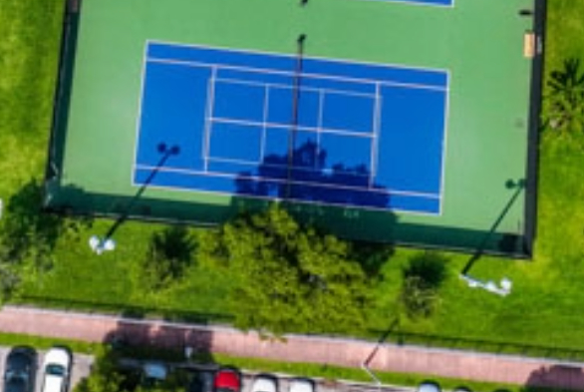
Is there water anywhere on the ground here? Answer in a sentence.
No, the scene doesn't show any water.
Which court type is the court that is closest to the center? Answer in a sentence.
The court that is closest to the center in the image is a tennis court.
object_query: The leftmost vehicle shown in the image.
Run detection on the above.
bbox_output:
[4,349,34,392]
